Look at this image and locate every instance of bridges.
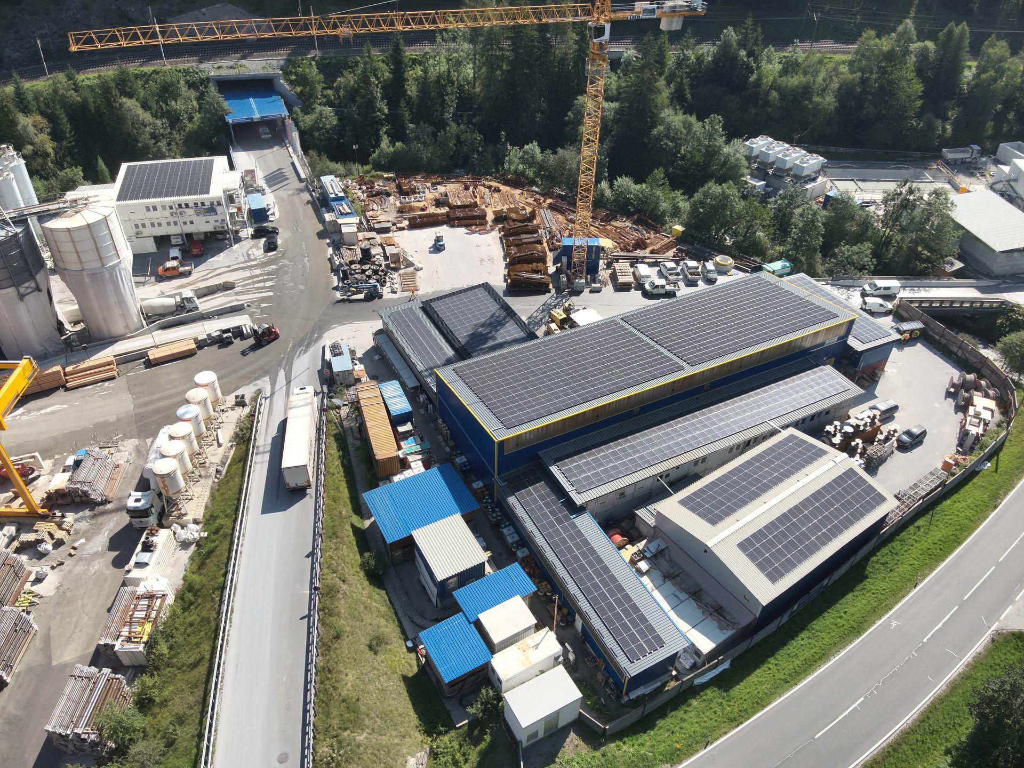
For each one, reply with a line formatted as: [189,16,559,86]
[868,273,1024,311]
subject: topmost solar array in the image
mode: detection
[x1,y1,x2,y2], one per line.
[118,158,212,200]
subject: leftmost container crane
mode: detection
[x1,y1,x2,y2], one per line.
[0,353,66,520]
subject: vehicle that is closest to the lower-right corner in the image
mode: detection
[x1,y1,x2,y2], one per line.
[894,419,937,449]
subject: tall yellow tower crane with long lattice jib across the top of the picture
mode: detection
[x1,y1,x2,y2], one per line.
[63,0,721,283]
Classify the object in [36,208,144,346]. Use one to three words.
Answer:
silo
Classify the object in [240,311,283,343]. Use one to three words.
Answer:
work vehicle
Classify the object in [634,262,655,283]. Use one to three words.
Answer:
vehicle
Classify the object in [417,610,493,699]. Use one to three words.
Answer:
shed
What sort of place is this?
industrial area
